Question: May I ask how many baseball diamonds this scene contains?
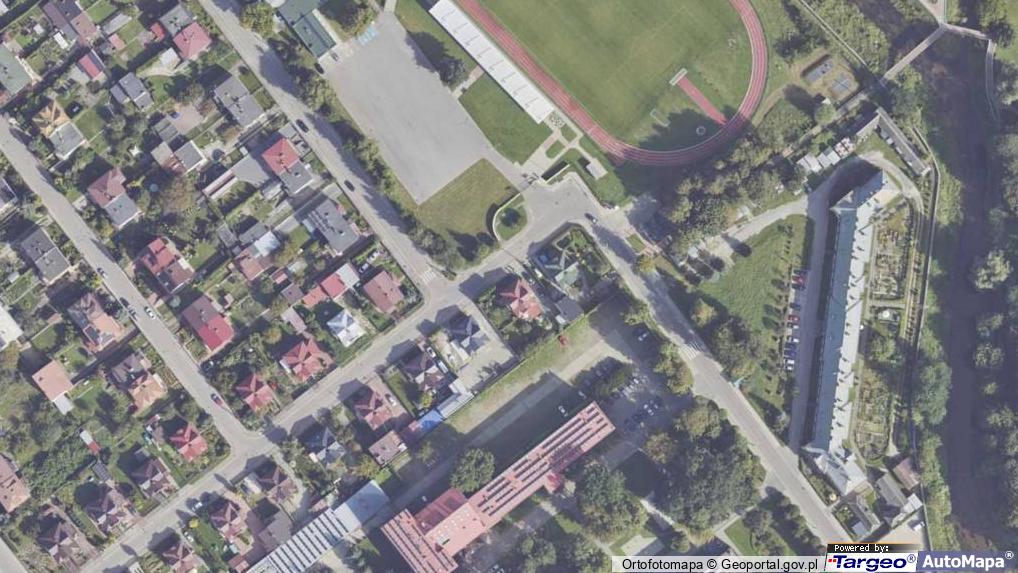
0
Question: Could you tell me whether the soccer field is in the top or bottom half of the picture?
top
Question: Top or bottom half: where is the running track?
top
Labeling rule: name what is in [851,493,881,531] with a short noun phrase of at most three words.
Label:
shed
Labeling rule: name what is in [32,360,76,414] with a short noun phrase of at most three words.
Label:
house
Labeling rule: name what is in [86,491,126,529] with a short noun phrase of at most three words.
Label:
house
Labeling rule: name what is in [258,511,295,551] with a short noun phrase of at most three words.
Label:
building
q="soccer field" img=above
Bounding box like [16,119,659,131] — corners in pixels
[477,0,752,150]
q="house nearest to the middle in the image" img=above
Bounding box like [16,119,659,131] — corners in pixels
[500,281,544,322]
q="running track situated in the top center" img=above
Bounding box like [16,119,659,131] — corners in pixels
[458,0,767,166]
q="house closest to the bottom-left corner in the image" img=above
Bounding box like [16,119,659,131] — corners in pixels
[39,520,81,564]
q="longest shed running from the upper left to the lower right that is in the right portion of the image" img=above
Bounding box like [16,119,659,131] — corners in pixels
[881,112,931,175]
